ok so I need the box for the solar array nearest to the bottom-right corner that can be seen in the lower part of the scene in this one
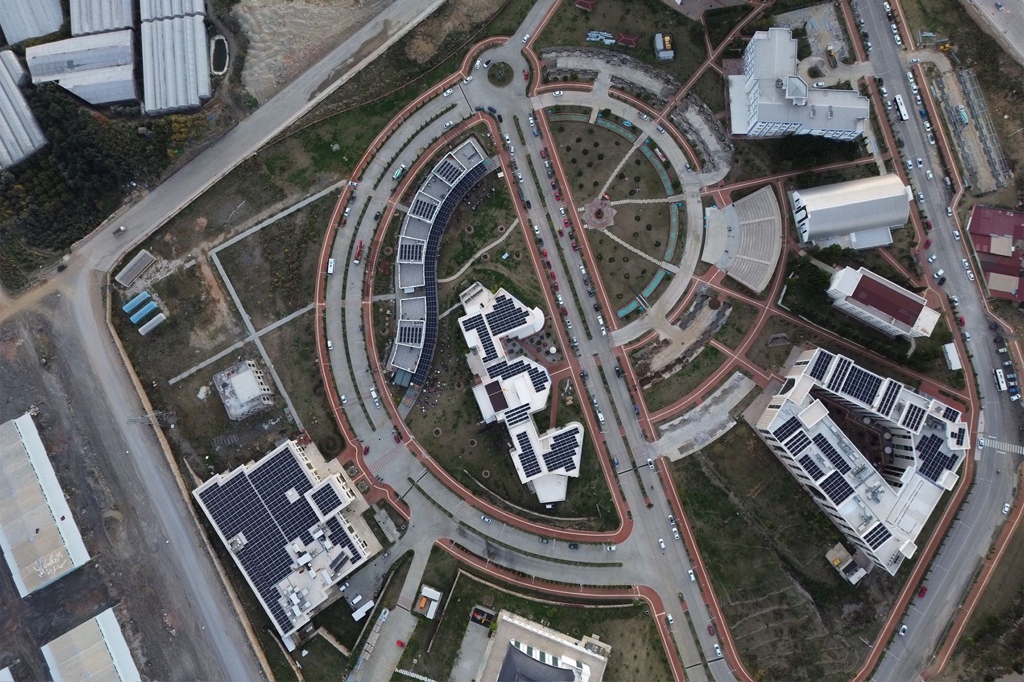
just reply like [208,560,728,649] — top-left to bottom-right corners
[863,523,891,549]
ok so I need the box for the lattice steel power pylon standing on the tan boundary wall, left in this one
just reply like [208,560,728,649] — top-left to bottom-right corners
[0,393,175,431]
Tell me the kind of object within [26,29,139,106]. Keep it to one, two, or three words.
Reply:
greenhouse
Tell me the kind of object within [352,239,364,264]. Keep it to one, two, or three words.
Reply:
vehicle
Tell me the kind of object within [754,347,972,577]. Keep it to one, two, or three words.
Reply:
building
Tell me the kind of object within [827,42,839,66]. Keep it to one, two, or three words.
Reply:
vehicle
